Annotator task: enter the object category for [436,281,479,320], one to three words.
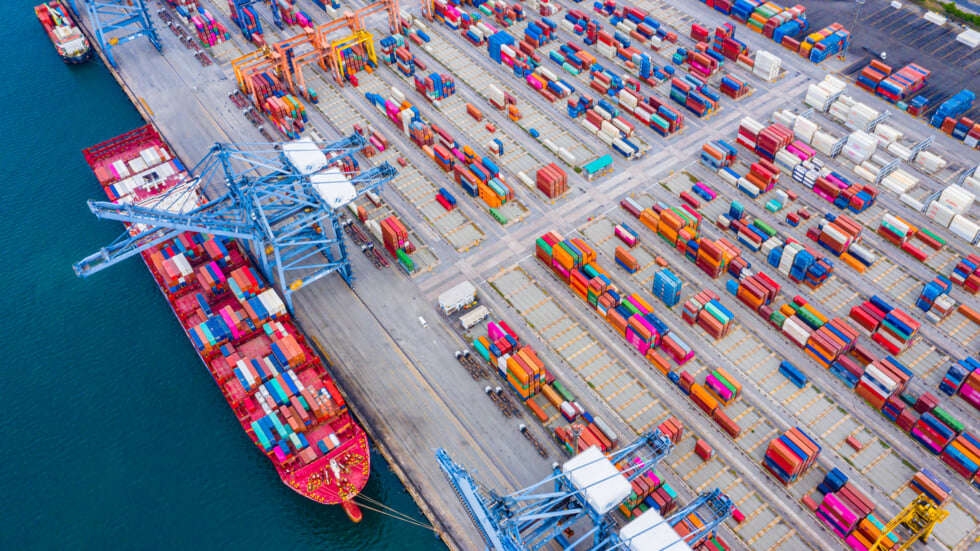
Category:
building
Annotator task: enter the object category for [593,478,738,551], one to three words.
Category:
container crane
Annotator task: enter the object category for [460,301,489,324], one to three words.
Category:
building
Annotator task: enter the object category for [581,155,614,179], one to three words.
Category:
shed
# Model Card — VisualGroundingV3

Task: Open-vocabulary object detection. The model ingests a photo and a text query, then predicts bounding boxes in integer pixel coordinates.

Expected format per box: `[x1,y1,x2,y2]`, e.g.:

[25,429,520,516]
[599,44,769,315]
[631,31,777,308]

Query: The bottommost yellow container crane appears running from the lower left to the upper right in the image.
[868,490,949,551]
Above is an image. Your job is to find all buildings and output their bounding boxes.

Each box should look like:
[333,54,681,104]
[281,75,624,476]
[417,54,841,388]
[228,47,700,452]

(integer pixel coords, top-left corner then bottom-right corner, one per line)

[436,281,479,320]
[460,301,489,324]
[581,155,614,179]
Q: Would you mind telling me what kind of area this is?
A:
port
